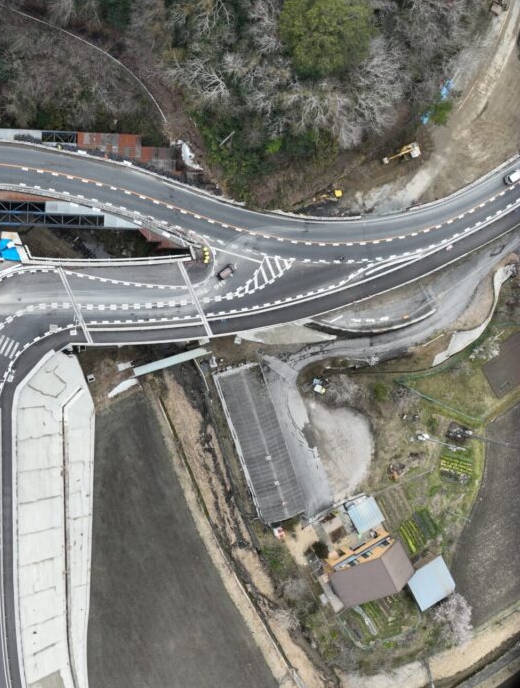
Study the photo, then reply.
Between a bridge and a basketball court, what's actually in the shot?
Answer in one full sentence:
It is a bridge that can be seen here.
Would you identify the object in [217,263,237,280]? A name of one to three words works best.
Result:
car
